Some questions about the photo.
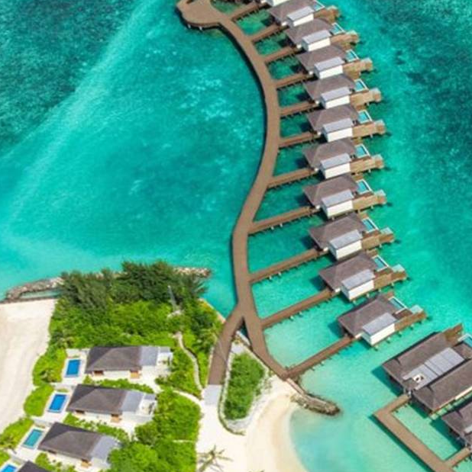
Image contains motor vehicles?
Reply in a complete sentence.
No, the scene contains no motor vehicle.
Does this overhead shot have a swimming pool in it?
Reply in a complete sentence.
Yes, there's a swimming pool here.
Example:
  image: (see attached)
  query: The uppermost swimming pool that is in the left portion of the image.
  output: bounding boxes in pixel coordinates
[63,356,83,378]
